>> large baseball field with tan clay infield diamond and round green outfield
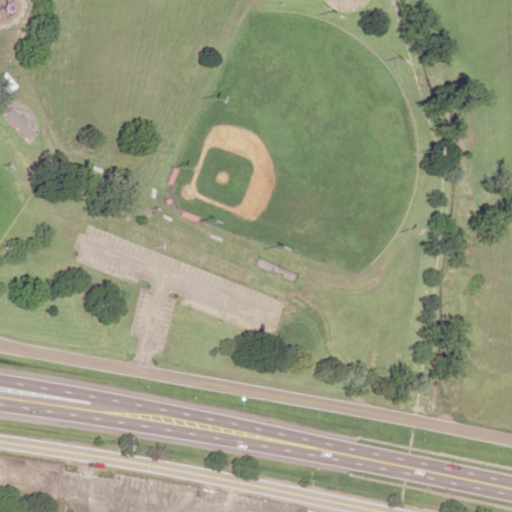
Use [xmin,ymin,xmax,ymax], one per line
[168,0,420,274]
